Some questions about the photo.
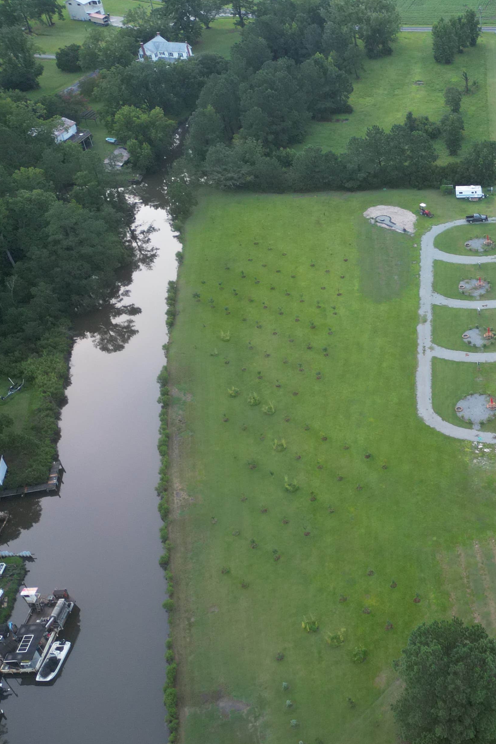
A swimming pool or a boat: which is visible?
boat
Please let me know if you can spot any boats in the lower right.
No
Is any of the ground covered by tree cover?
Yes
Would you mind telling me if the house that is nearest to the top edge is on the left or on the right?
left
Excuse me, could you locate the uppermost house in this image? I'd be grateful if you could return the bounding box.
[65,0,106,21]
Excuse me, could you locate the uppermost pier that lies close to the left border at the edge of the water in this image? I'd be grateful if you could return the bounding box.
[0,456,63,504]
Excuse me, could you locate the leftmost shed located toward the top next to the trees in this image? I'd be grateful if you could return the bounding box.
[34,118,80,145]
